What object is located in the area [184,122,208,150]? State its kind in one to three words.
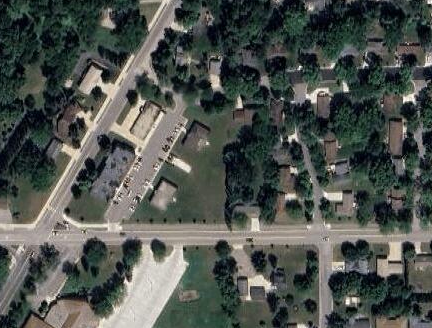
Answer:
building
